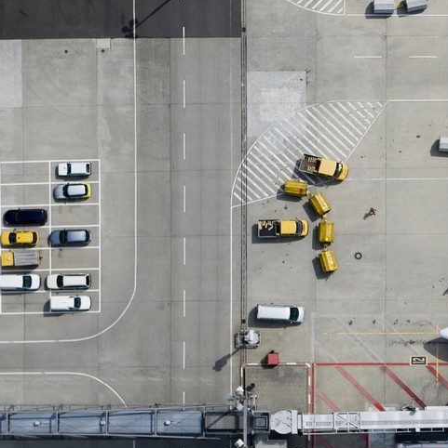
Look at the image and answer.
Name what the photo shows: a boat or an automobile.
automobile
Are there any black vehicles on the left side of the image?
Yes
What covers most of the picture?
paved ground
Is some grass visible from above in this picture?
No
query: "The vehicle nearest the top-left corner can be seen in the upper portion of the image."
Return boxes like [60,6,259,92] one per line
[58,160,92,177]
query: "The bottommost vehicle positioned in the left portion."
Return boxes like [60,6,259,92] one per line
[50,293,92,312]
